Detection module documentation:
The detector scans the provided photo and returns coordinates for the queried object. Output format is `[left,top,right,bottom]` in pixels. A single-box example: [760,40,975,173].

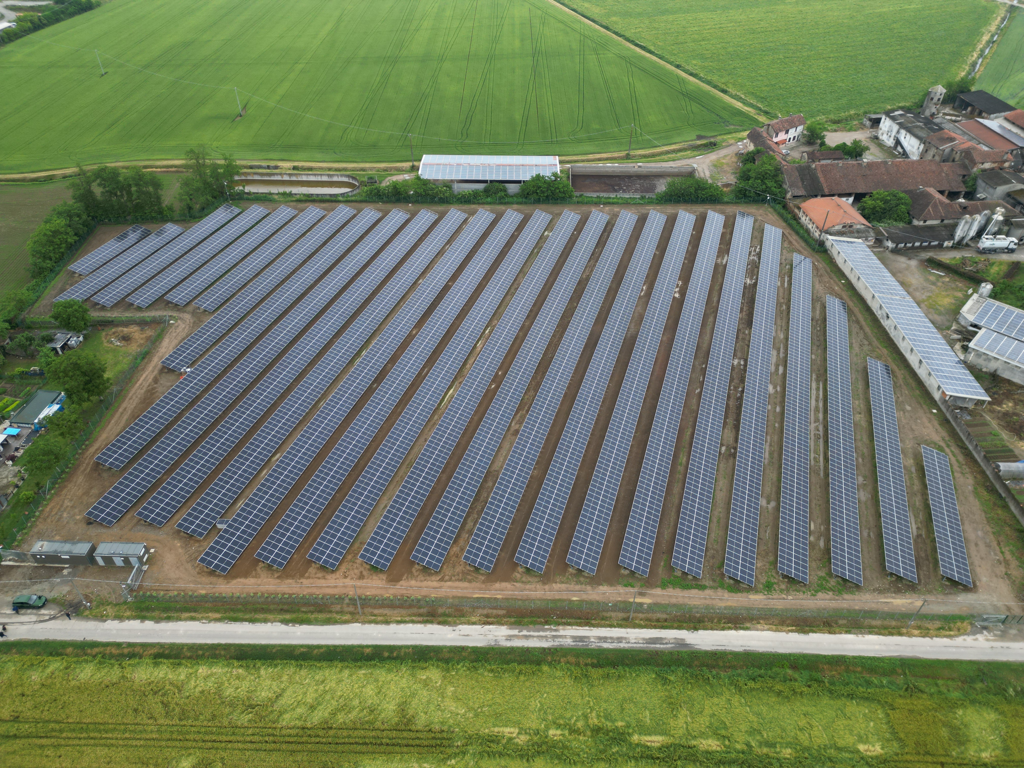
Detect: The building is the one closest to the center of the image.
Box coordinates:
[415,155,561,194]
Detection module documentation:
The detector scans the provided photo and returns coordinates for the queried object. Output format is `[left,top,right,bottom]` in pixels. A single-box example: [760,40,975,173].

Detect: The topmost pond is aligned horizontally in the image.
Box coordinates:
[196,171,361,198]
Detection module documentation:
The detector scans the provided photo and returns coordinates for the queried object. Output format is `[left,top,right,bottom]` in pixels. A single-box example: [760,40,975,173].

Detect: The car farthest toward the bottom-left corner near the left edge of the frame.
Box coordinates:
[10,590,49,607]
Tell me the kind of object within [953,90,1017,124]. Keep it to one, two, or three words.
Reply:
shed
